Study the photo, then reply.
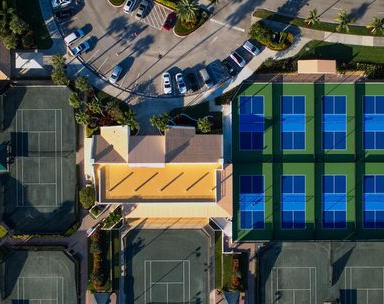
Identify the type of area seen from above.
sports ground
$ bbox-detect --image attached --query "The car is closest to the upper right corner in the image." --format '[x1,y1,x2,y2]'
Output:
[242,39,260,58]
